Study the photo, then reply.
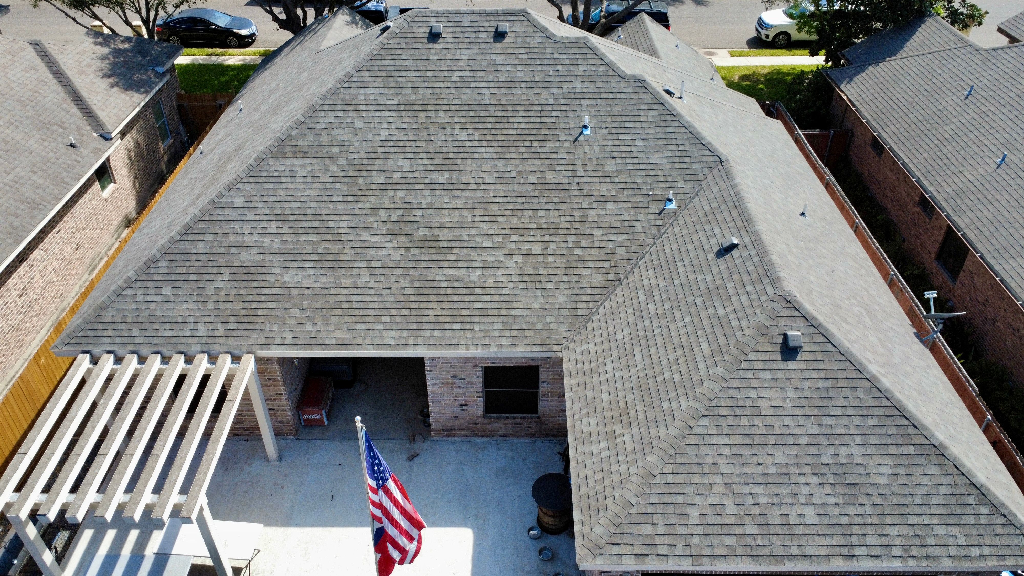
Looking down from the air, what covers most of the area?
buildings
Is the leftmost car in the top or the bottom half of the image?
top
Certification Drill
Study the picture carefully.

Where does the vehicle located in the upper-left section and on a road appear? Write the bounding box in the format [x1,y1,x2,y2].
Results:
[159,10,269,48]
